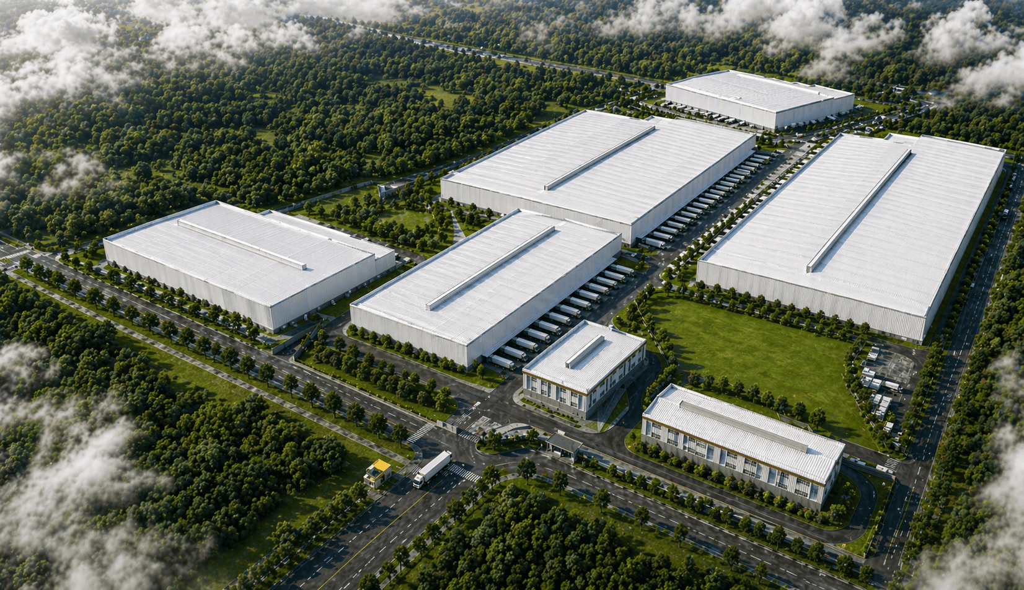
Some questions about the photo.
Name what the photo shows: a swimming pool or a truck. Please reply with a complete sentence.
The image shows a truck.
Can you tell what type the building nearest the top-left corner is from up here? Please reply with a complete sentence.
It looks like the building nearest the top-left corner is a warehouse.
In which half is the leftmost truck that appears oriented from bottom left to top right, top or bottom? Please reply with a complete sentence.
Seen from above, the leftmost truck that appears oriented from bottom left to top right lies in the bottom half of the view.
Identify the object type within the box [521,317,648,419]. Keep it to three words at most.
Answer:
building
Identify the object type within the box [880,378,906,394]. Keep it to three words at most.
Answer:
vehicle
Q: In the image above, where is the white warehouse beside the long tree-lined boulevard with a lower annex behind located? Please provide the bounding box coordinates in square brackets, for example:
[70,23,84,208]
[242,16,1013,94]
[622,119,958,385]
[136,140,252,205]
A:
[101,201,399,333]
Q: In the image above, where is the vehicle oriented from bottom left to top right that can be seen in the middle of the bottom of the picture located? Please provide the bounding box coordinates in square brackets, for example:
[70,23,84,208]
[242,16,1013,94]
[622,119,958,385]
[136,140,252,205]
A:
[412,451,454,488]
